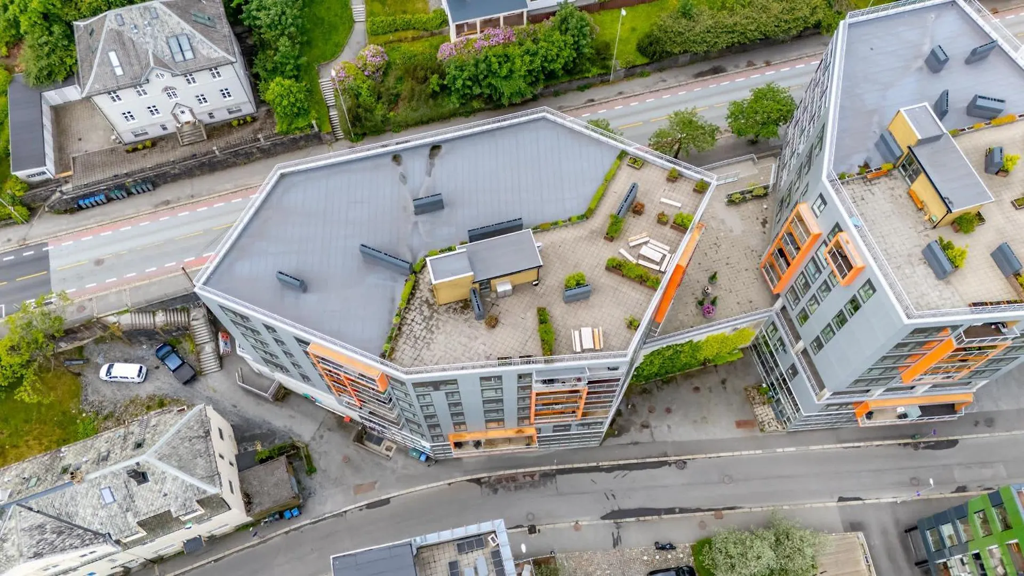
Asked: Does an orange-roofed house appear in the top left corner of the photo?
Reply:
No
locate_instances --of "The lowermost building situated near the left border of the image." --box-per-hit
[0,404,251,576]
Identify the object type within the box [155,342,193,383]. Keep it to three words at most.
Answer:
truck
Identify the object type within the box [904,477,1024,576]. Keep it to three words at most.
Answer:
building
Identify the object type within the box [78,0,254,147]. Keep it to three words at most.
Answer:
house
